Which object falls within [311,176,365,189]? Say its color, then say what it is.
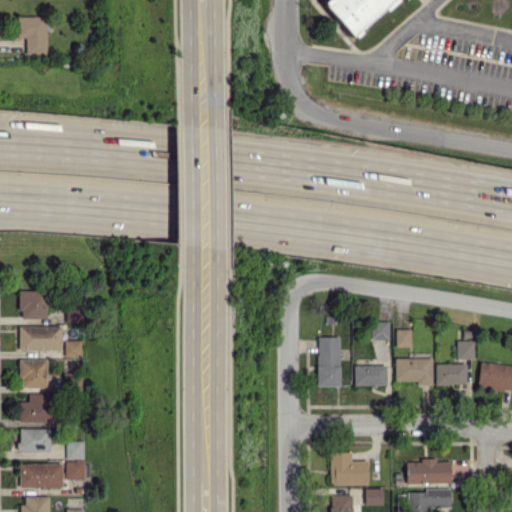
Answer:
white vehicle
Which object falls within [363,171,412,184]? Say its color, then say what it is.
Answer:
white vehicle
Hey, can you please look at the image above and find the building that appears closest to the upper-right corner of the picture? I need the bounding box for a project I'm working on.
[329,0,404,39]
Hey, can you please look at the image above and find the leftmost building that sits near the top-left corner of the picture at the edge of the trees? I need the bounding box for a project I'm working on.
[20,16,48,54]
